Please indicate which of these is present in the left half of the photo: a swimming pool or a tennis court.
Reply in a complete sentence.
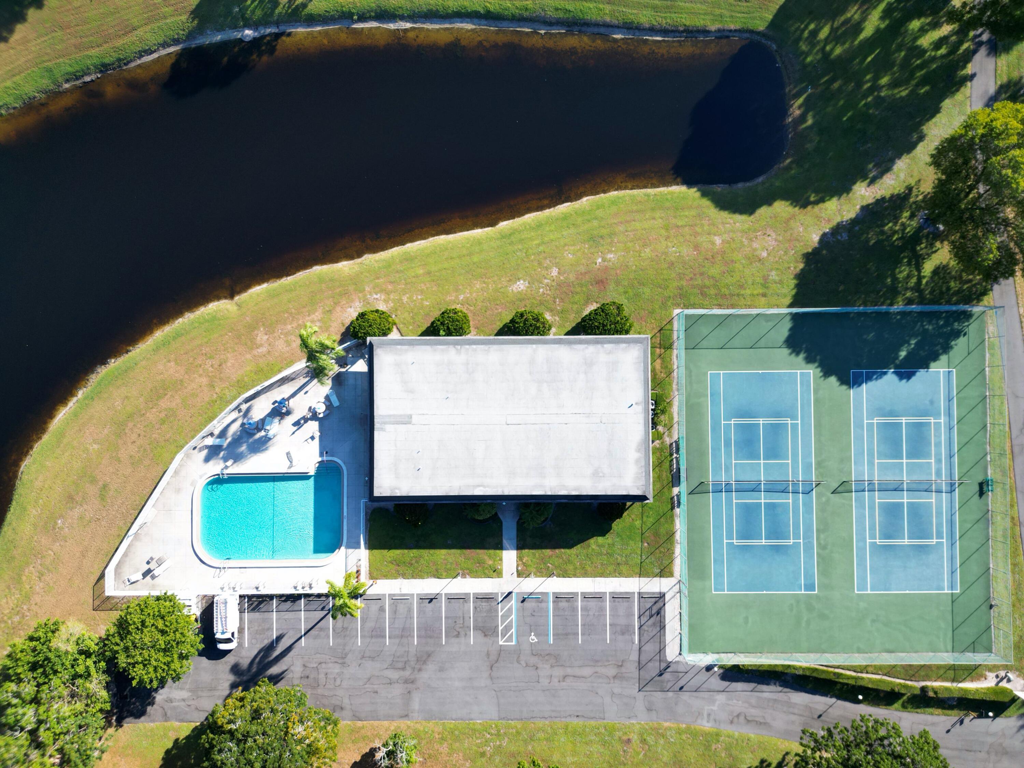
The one visible in the left half of the photo is a swimming pool.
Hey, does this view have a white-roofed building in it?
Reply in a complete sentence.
Yes, looking at the shot, I can spot a white-roofed building.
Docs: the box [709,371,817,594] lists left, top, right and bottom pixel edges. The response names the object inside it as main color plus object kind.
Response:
blue tennis court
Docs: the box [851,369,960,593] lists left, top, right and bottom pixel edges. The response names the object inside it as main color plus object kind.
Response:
blue tennis court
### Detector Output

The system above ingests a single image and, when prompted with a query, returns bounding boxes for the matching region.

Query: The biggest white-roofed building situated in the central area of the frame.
[365,335,652,505]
